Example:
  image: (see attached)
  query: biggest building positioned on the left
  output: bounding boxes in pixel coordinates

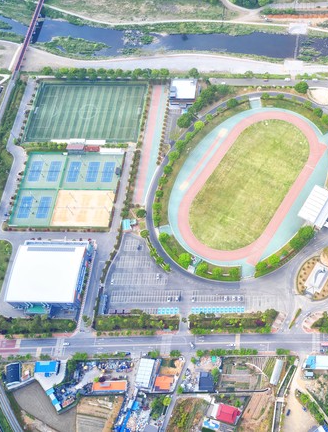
[5,240,98,315]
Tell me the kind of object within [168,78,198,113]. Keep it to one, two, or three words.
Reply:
building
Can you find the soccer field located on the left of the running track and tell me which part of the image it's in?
top left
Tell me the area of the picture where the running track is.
right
